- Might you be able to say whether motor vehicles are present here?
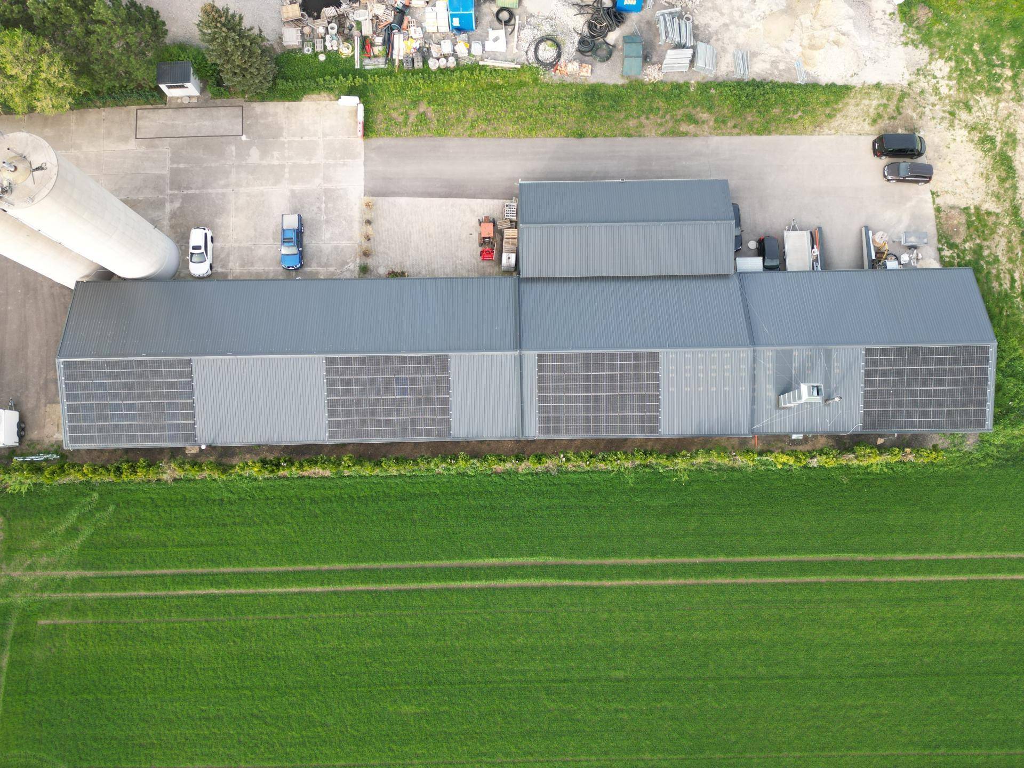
Yes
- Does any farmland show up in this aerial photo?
Yes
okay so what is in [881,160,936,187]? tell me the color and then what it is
gray car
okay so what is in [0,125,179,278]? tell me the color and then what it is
white silo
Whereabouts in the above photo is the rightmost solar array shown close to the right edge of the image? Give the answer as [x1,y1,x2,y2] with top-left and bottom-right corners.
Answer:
[862,343,995,431]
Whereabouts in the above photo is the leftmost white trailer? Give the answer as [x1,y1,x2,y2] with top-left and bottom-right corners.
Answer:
[0,395,24,445]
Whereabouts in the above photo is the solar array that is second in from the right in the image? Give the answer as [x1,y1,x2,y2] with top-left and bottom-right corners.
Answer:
[535,349,663,438]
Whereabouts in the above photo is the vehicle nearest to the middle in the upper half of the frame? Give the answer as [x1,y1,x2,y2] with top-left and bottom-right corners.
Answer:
[478,215,496,255]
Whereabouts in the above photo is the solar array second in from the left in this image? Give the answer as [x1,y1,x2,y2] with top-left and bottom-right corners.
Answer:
[322,352,453,442]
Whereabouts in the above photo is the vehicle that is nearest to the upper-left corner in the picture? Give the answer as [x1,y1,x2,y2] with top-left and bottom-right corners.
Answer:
[187,225,214,276]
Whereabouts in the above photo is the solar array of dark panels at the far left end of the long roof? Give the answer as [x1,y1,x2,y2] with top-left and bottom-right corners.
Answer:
[57,357,197,446]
